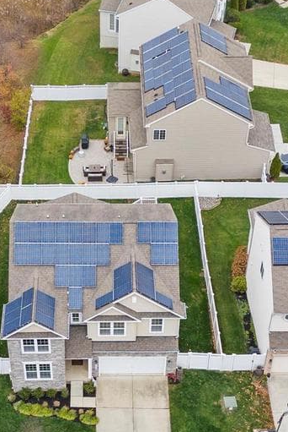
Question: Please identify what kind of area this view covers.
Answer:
residential area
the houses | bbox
[249,195,288,374]
[0,184,185,390]
[107,20,277,184]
